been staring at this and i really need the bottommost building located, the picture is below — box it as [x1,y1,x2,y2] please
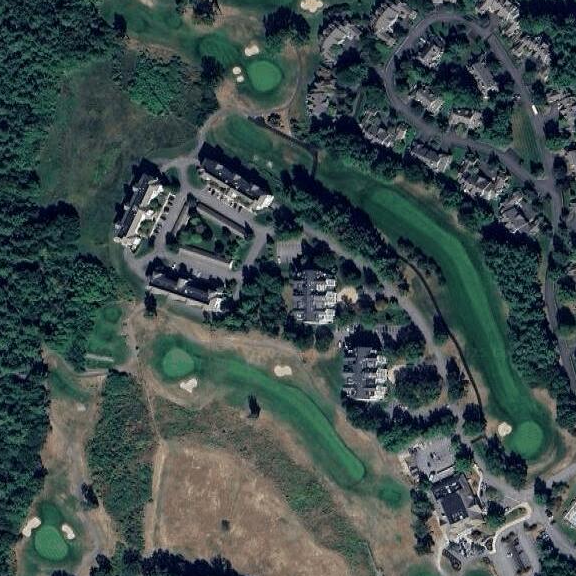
[430,467,486,530]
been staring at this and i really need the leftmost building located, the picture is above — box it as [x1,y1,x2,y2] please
[116,177,164,254]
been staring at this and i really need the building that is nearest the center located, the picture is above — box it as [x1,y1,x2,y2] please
[293,271,337,325]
